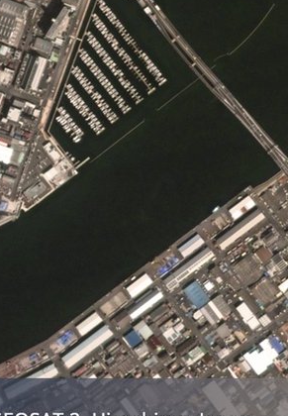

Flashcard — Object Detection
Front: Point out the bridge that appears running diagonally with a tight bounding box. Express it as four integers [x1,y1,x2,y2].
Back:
[151,0,288,177]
